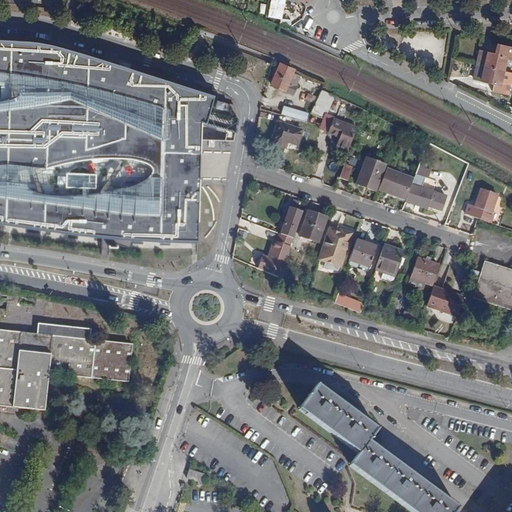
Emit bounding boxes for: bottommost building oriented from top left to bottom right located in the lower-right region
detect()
[354,440,468,512]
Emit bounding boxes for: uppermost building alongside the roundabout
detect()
[0,40,215,244]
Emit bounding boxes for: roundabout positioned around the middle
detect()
[170,271,243,344]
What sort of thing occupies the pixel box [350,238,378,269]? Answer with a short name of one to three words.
house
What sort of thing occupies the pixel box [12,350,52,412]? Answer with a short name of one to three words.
building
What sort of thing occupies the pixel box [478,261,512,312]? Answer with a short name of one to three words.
building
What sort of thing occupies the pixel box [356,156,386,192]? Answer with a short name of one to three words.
house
